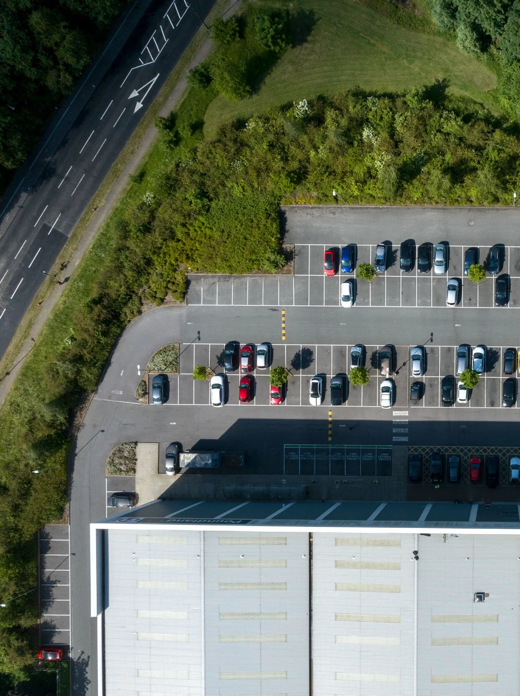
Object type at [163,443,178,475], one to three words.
car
